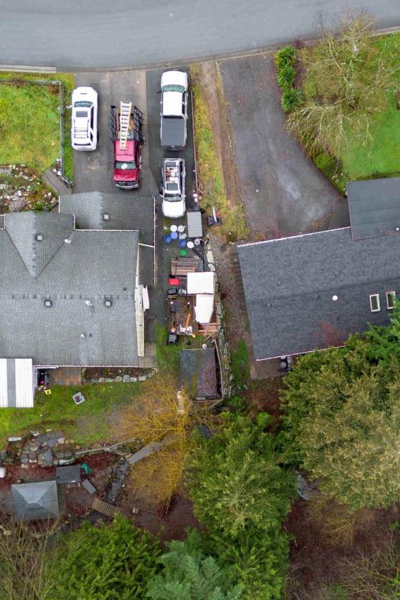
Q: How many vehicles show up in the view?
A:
four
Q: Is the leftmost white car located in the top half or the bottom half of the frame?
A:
top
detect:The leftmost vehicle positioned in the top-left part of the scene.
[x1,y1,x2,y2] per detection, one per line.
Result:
[69,88,102,151]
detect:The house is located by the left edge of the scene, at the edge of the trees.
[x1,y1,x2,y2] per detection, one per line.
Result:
[0,192,159,368]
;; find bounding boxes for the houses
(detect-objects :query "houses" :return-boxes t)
[0,192,159,368]
[237,176,400,362]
